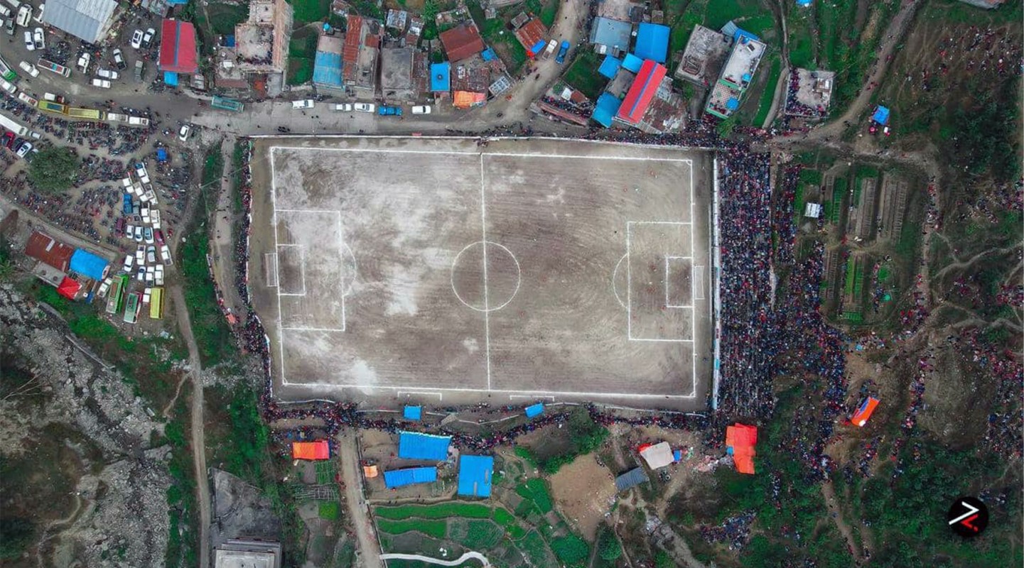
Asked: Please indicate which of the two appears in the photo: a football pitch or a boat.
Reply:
football pitch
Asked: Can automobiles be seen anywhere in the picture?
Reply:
Yes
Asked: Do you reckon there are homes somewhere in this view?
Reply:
Yes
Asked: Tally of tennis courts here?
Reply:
0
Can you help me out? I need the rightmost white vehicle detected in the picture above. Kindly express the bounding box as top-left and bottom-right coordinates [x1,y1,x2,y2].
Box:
[542,38,558,61]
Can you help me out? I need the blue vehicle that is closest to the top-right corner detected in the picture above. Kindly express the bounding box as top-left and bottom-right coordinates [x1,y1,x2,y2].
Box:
[555,40,569,65]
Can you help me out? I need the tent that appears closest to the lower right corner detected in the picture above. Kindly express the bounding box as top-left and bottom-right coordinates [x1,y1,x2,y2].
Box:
[846,395,879,427]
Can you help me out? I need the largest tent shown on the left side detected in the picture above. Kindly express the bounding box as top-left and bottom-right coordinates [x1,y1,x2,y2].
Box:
[292,438,332,459]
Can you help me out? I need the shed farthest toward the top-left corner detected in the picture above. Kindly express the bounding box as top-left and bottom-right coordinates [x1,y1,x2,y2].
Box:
[42,0,124,45]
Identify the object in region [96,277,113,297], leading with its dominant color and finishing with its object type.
white car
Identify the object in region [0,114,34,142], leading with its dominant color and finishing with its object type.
white bus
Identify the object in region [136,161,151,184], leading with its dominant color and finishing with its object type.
white vehicle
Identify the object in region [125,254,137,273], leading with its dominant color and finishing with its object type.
white vehicle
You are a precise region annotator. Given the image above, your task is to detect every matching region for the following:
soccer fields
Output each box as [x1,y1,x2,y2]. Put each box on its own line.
[249,138,712,412]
